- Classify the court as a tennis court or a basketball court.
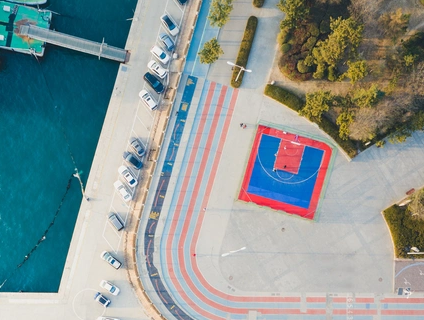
basketball court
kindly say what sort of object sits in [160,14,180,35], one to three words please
car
